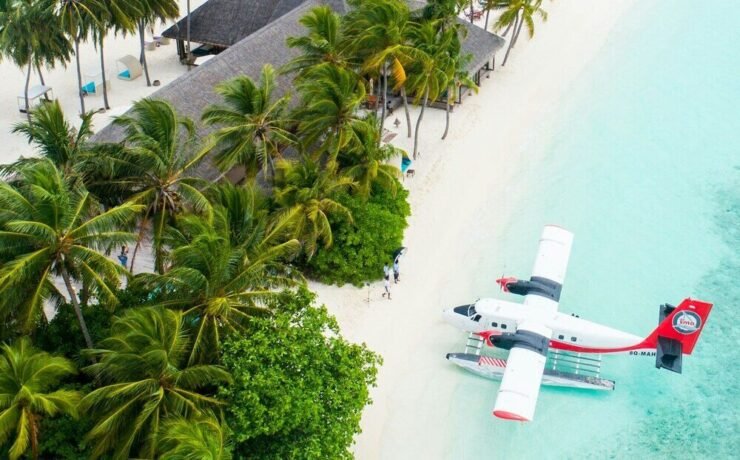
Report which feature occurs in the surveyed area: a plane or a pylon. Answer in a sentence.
Of the two, only a plane appears.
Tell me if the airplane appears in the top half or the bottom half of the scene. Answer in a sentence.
The airplane sits in the bottom half of the picture.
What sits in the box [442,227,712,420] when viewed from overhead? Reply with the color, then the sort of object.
white airplane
